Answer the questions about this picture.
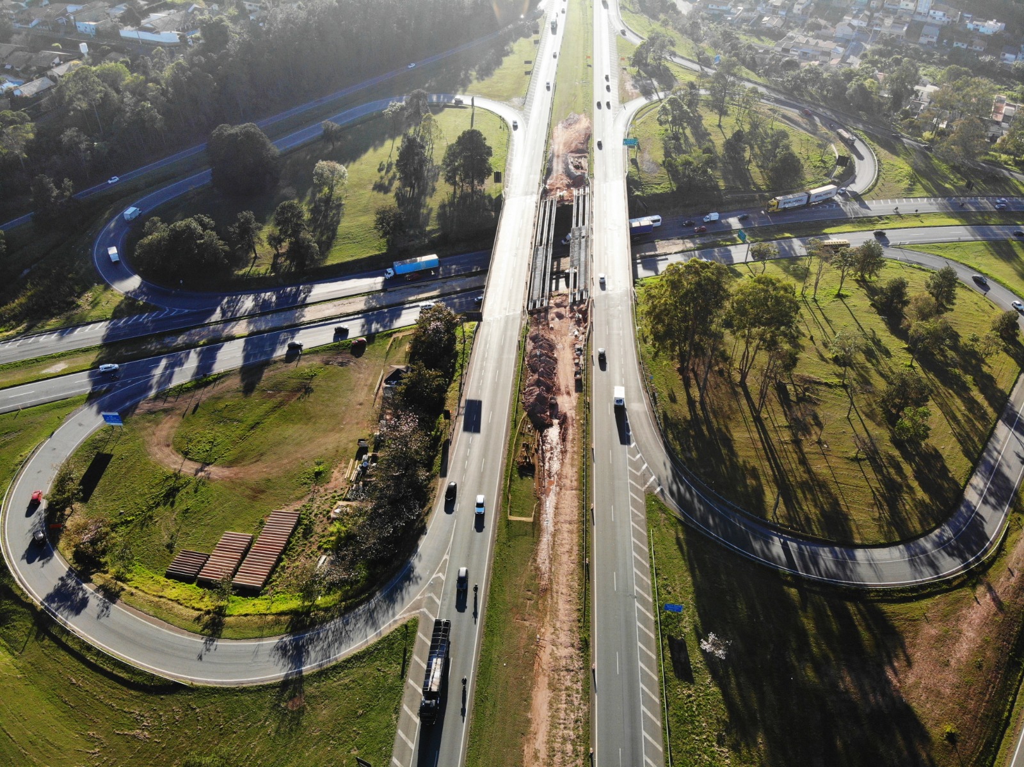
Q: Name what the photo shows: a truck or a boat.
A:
truck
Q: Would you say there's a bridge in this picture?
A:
Yes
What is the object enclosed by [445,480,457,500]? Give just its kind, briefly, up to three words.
vehicle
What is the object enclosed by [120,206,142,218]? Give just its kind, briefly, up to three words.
vehicle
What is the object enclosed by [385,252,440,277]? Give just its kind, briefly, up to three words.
truck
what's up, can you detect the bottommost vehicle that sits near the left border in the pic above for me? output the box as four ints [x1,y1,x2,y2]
[30,527,46,545]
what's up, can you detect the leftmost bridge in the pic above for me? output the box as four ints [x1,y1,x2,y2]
[477,189,541,320]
